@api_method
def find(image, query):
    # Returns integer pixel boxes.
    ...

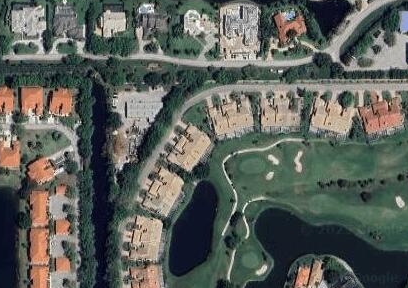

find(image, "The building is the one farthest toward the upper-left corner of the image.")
[10,7,43,38]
